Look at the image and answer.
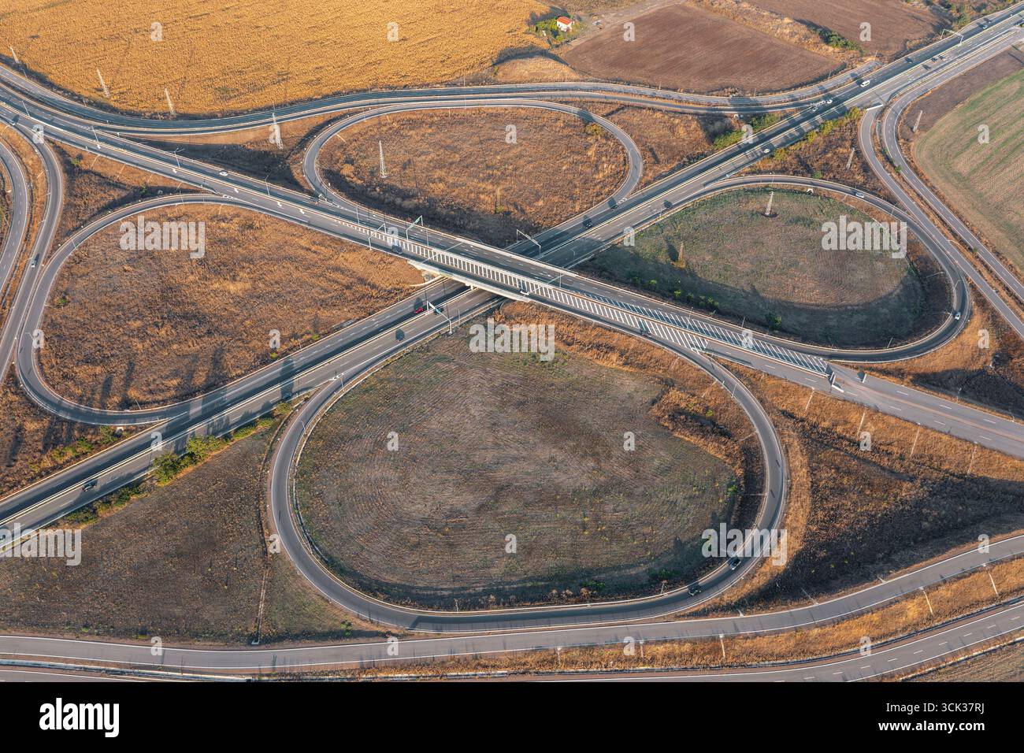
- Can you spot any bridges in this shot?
Yes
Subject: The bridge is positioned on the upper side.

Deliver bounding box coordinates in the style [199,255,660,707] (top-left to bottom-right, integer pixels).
[409,238,577,303]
